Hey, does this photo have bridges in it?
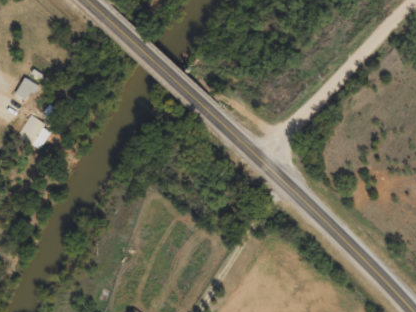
Yes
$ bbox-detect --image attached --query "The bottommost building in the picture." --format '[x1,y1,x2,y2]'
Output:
[20,116,50,150]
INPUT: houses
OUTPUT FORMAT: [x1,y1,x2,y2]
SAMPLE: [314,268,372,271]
[20,116,50,150]
[14,76,40,103]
